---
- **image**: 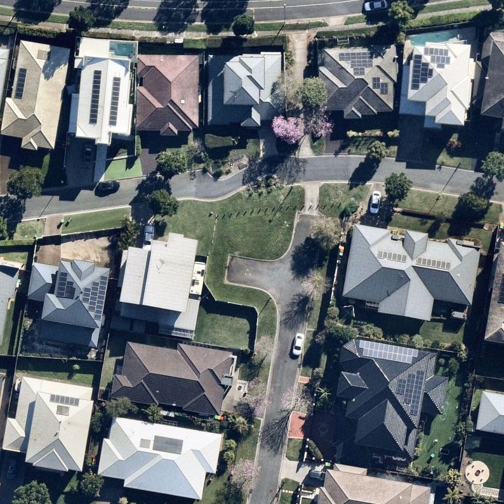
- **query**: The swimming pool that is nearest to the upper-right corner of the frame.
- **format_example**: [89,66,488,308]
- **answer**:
[407,24,471,46]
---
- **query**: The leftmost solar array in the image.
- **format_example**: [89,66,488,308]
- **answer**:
[14,68,29,99]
